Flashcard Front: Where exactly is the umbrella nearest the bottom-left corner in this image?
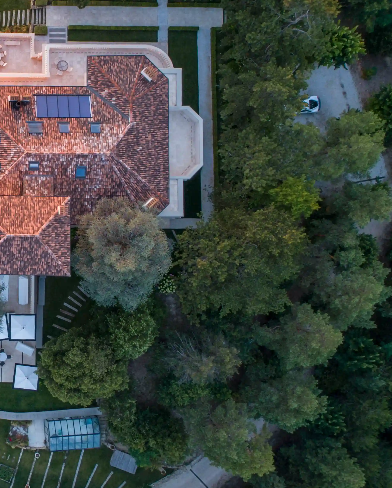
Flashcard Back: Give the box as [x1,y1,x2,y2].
[13,363,40,392]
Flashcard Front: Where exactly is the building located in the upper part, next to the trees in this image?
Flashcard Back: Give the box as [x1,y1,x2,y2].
[0,54,172,227]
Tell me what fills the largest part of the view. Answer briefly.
trees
